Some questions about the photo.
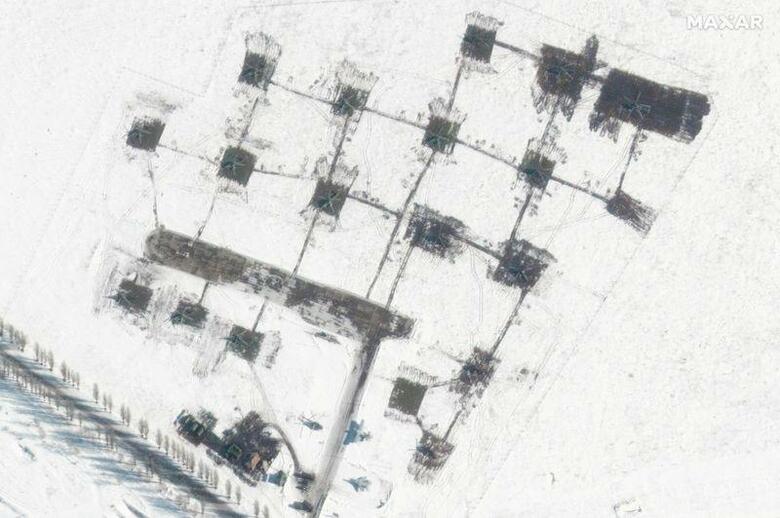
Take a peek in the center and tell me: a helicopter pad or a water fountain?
helicopter pad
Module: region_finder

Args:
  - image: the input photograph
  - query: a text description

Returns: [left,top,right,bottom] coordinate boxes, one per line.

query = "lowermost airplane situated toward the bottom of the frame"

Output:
[349,477,372,490]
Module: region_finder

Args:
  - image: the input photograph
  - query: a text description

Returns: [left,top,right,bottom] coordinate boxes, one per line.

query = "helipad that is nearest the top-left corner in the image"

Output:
[126,116,167,152]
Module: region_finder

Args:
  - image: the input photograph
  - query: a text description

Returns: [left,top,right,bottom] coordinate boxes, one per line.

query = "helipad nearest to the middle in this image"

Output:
[403,200,471,265]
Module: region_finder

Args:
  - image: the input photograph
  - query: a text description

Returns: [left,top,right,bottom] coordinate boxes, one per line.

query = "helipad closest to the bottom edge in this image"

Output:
[405,431,456,483]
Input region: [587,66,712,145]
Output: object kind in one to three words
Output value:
helipad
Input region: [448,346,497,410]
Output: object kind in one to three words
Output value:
helipad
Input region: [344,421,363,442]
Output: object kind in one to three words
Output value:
airplane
